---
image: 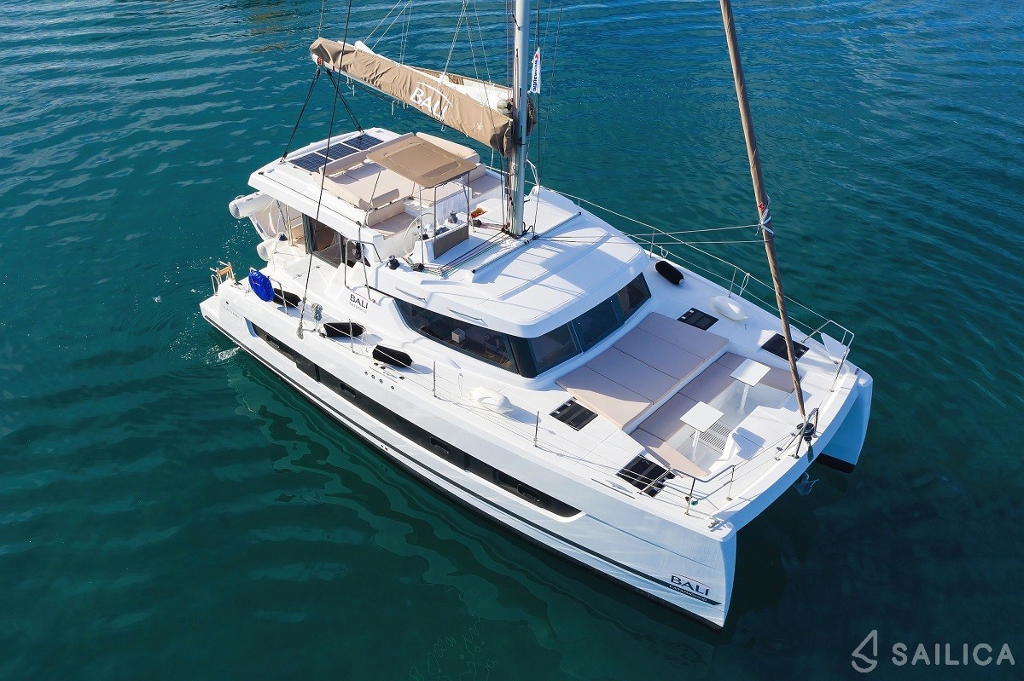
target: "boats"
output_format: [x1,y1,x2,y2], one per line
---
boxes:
[197,0,867,628]
[231,188,303,255]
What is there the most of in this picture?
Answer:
water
